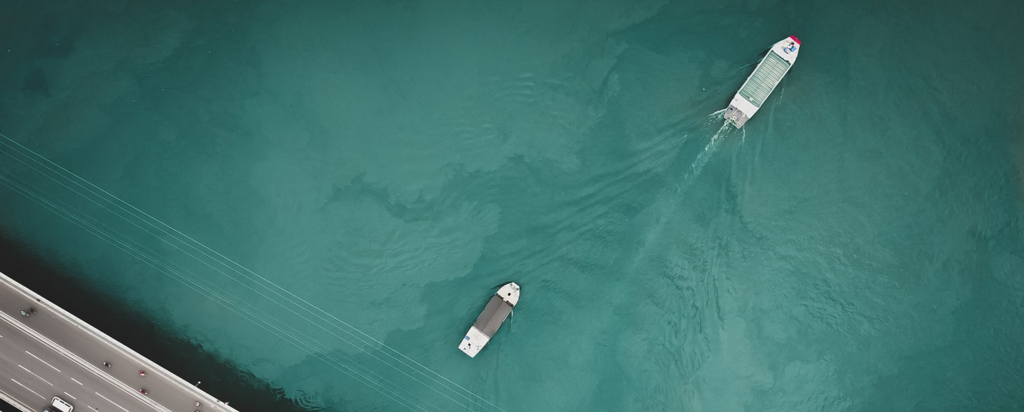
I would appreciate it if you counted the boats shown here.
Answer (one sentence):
Looking from above, you can make out 2 boats.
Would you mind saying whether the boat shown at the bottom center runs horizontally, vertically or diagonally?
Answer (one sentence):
I'd say the boat shown at the bottom center is aligned diagonally in the picture.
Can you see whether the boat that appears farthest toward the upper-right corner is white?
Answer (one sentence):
Yes, the boat that appears farthest toward the upper-right corner appears white.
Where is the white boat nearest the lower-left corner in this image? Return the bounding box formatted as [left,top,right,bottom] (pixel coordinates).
[458,282,520,358]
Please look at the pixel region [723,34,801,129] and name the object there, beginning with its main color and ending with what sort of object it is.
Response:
white boat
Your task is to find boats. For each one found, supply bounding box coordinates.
[458,282,520,358]
[723,34,801,129]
